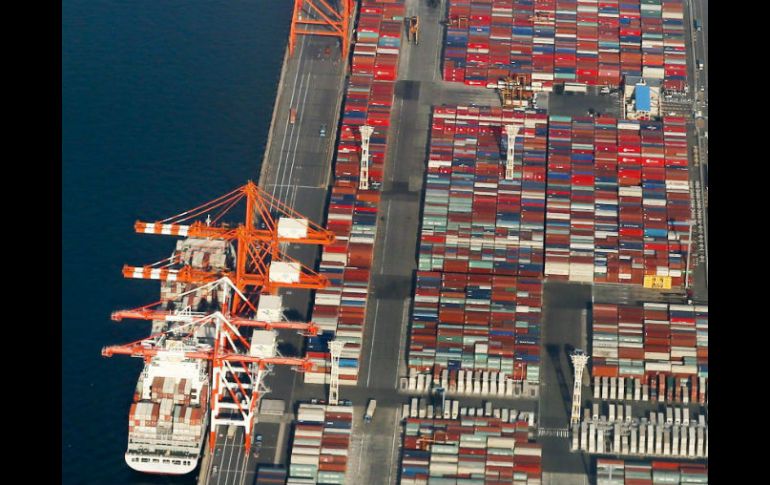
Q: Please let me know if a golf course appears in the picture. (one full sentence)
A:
No, the scene contains no golf course.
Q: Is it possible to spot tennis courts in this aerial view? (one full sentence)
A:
No, the photo shows no tennis court.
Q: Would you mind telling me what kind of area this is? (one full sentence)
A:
What you see here is a port.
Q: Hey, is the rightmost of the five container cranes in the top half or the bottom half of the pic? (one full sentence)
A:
It is in the top half that the rightmost of the five container cranes appears.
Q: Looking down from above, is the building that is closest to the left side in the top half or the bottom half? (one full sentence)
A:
Seen from above, the building that is closest to the left side lies in the top half of the view.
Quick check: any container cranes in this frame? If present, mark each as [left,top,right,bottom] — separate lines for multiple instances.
[100,310,308,456]
[120,223,330,373]
[288,0,357,60]
[132,177,336,320]
[109,273,319,421]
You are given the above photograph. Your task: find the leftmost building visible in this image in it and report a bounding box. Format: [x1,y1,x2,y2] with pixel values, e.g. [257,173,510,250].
[623,74,662,120]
